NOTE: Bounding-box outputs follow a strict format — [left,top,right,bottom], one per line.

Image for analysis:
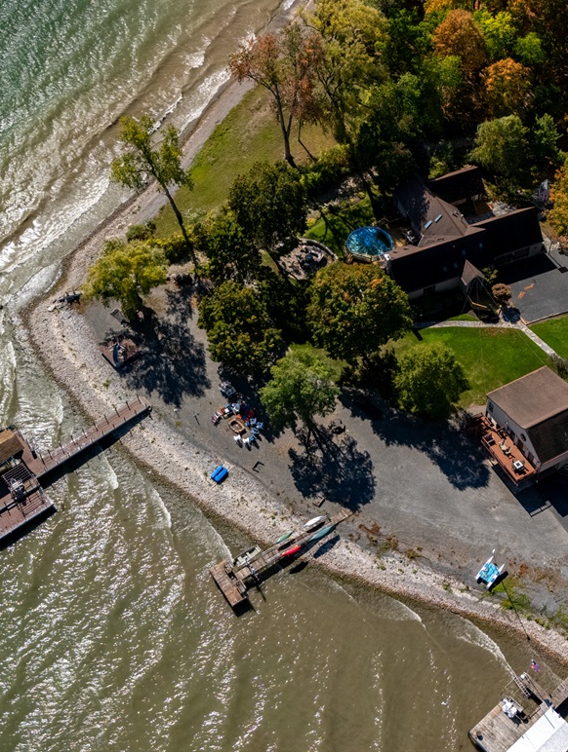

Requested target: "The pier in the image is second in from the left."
[210,507,353,610]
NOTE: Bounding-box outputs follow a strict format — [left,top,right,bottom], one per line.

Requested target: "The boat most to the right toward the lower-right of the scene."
[477,544,504,587]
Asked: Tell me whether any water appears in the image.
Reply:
Yes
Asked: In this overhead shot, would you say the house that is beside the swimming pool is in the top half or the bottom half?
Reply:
top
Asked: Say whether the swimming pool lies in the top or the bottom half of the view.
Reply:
top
